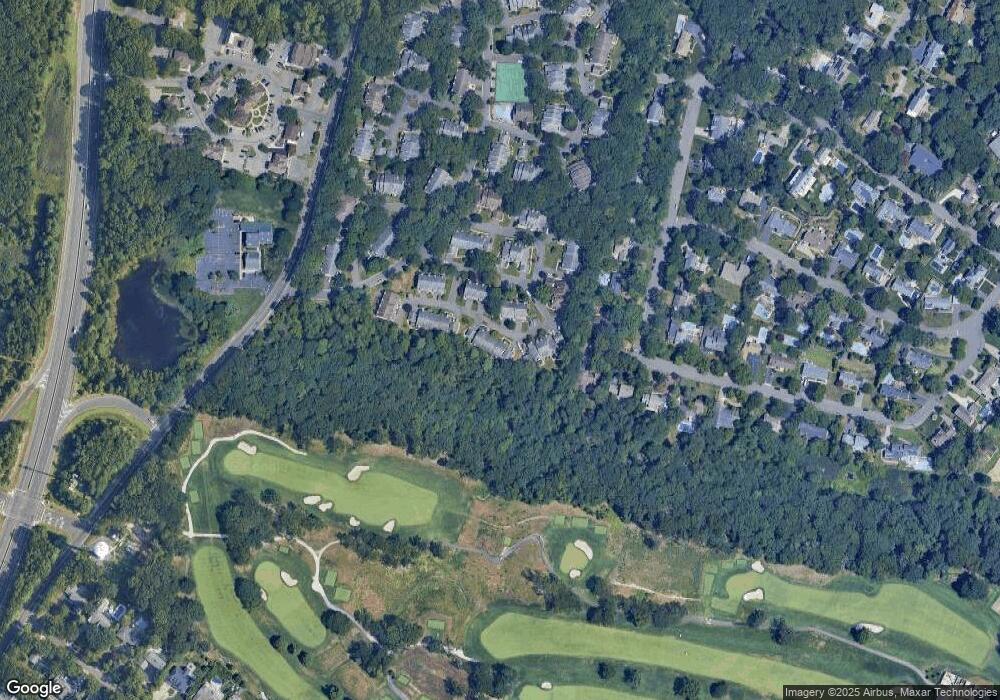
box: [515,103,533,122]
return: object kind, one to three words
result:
building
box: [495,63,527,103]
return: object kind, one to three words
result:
tennis court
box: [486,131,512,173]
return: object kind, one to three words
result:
house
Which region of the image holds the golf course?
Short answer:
bottom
